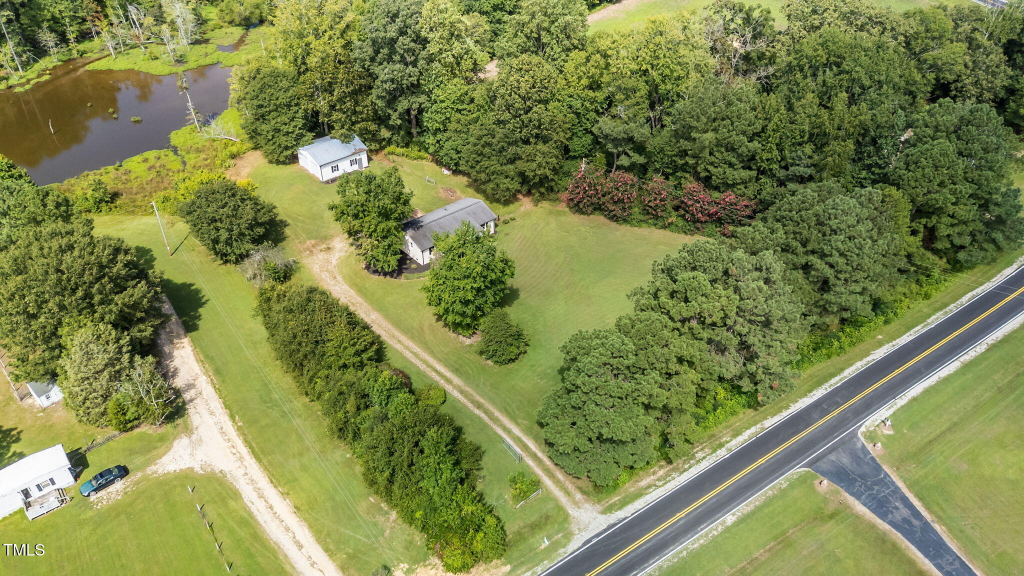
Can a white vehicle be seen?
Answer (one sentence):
No, the photo shows no white vehicle.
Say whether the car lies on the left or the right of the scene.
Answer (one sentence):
The car sits on the left side.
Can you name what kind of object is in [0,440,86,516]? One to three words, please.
house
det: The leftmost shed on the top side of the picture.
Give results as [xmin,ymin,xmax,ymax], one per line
[302,134,369,181]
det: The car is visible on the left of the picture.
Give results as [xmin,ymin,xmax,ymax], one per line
[79,465,126,497]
